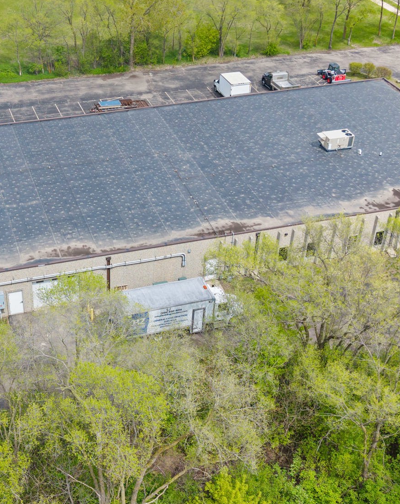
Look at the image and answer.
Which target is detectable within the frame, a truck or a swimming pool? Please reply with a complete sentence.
The image shows a truck.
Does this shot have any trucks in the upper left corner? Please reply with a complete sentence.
No, I can find no truck in the upper left corner.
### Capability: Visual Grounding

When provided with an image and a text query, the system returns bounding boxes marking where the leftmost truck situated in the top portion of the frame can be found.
[209,68,253,97]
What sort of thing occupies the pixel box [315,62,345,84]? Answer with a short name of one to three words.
work vehicle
